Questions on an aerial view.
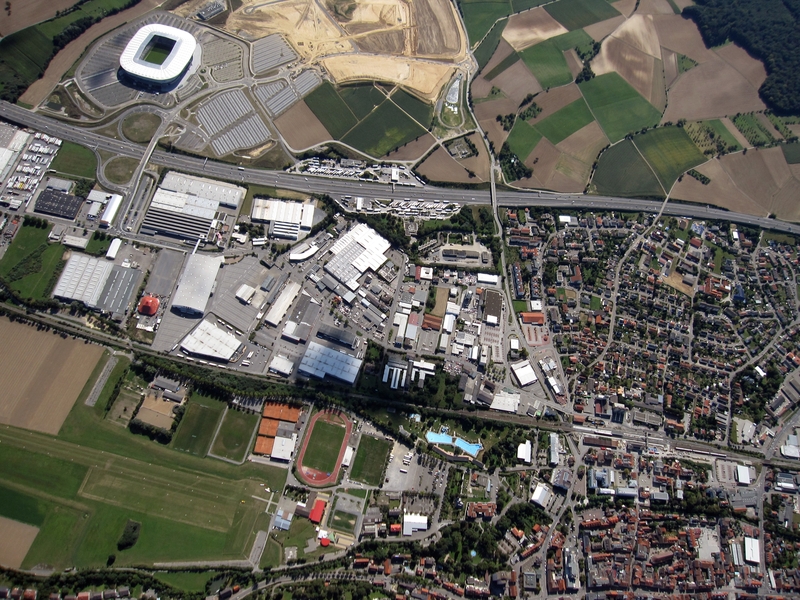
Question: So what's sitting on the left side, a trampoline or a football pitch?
football pitch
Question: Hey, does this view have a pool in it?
Yes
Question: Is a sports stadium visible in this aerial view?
Yes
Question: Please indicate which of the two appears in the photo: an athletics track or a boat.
athletics track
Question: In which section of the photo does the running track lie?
bottom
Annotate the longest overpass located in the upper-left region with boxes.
[121,115,171,207]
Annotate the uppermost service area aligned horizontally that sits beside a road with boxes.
[288,159,426,185]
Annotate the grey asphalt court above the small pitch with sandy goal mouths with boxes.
[335,493,363,518]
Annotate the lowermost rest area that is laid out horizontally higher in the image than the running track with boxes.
[330,195,462,220]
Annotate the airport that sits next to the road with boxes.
[0,427,276,534]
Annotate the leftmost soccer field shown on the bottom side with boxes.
[174,397,222,451]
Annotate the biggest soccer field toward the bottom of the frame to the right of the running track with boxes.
[351,434,391,485]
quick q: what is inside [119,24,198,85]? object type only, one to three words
stadium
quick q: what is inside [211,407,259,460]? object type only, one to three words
soccer field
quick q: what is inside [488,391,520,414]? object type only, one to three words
building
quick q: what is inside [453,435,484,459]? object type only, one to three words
swimming pool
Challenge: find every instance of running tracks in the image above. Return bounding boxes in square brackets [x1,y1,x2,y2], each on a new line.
[298,409,352,487]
